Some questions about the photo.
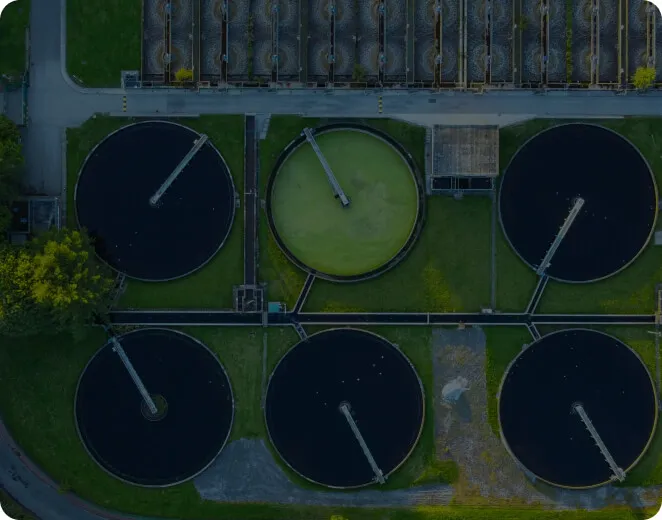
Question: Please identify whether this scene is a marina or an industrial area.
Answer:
industrial area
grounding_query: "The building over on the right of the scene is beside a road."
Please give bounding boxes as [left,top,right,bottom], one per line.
[431,125,499,177]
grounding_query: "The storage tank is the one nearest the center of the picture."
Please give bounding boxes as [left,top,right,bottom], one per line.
[265,122,425,283]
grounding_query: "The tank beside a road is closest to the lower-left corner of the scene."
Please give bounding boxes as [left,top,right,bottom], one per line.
[74,328,234,488]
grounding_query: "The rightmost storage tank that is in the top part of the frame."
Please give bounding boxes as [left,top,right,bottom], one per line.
[497,124,659,283]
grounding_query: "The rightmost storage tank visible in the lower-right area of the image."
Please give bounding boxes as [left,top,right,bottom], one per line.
[497,328,658,488]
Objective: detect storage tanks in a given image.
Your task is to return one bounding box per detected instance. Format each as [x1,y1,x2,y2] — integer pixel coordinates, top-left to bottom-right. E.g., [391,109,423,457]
[75,121,237,281]
[497,124,659,283]
[265,122,425,283]
[265,328,425,488]
[74,328,234,488]
[497,328,658,488]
